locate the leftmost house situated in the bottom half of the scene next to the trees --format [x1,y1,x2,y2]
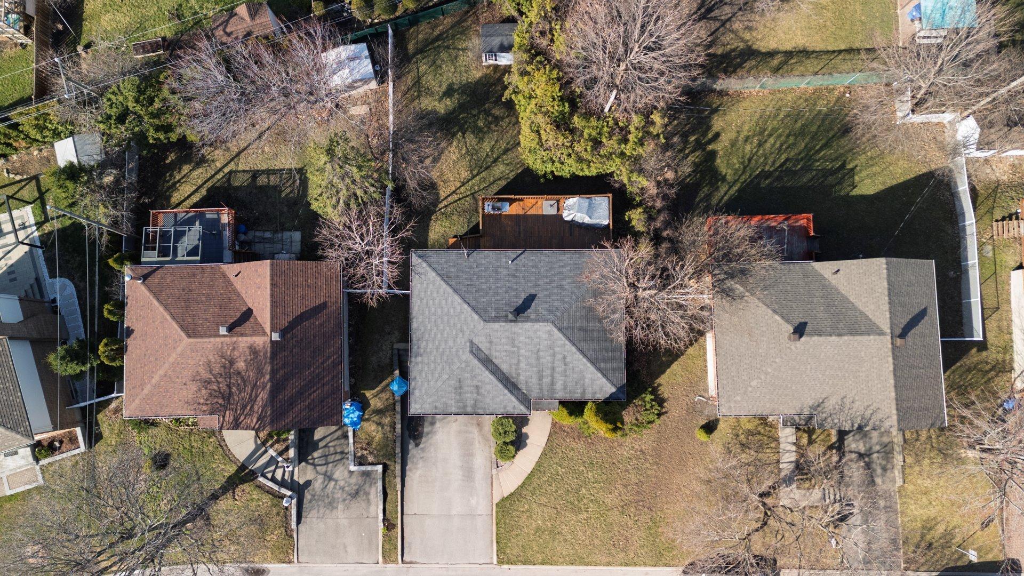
[0,295,80,468]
